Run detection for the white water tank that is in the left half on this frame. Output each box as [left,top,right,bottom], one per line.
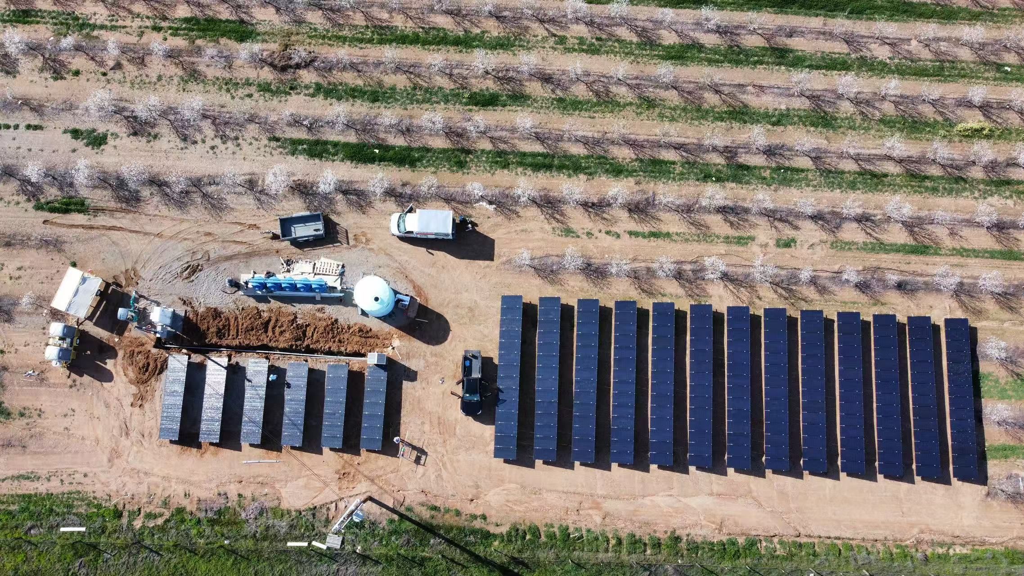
[353,274,397,316]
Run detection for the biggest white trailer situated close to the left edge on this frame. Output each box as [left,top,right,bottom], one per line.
[50,267,108,327]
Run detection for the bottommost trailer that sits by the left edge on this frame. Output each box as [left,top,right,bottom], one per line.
[45,322,84,376]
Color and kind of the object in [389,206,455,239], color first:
white truck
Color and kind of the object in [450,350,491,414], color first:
black truck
